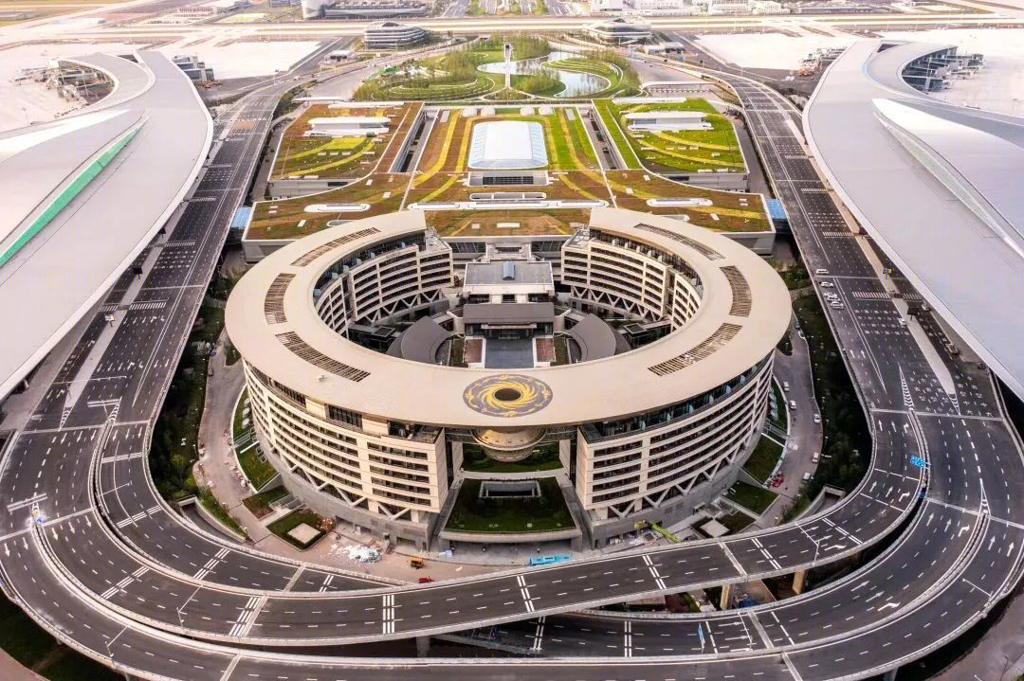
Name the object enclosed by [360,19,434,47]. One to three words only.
building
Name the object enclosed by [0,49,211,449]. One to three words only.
building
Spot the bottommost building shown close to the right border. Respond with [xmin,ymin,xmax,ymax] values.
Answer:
[804,39,1024,447]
